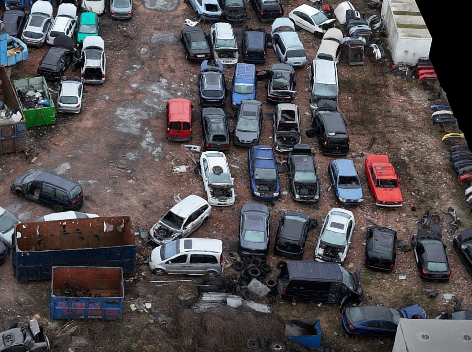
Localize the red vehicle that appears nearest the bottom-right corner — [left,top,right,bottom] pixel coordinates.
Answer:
[361,156,399,214]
